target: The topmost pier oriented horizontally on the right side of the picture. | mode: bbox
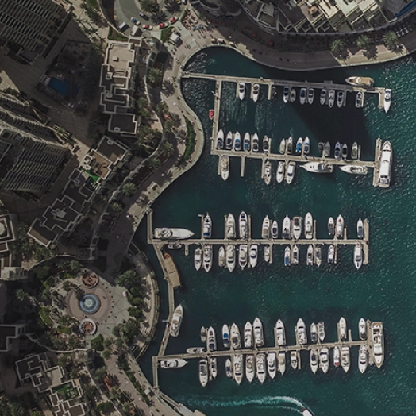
[181,72,383,153]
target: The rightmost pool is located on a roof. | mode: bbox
[395,0,416,18]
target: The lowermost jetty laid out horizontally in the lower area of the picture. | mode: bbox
[151,322,374,390]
